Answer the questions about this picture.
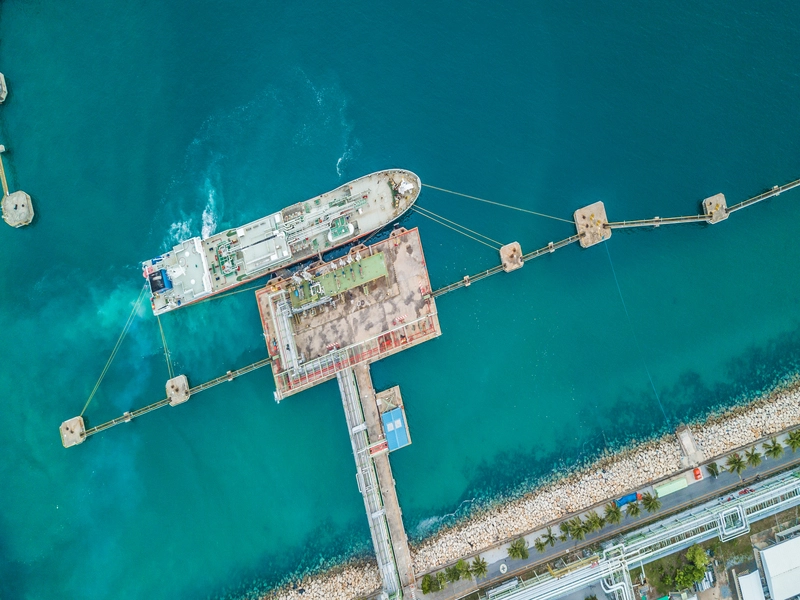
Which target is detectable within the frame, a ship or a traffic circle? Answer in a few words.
ship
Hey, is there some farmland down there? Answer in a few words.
No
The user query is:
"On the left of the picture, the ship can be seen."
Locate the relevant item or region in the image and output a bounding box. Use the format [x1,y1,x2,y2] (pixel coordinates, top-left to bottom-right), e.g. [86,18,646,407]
[141,168,421,316]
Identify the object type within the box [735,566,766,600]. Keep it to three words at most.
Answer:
shed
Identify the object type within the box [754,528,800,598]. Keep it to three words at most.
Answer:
building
